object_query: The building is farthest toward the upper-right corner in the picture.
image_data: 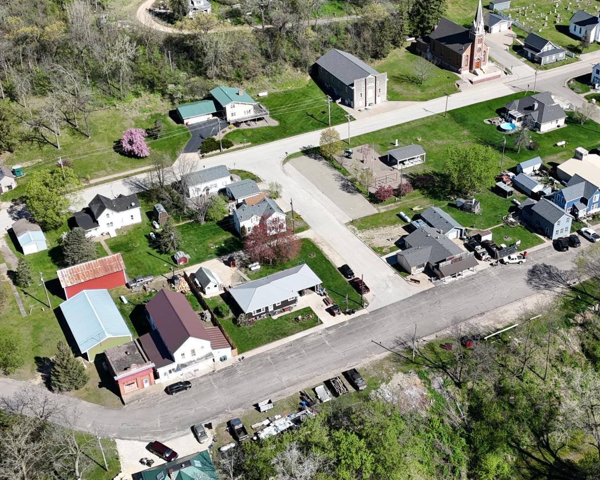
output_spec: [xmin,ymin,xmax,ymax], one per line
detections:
[565,9,600,43]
